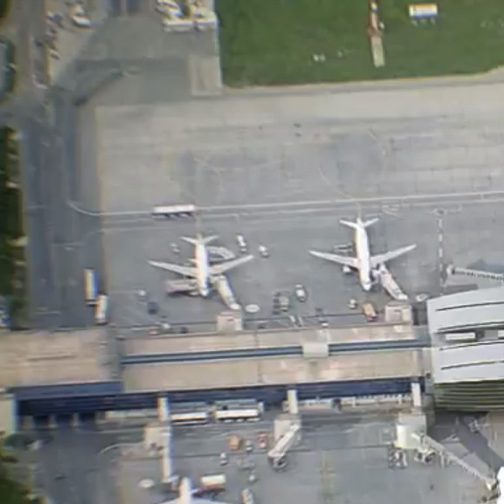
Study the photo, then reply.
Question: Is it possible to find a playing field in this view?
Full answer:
No, the picture doesn't show any playing field.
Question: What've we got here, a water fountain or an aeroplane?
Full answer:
Looking from above, you can make out an aeroplane.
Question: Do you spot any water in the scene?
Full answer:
No, the picture contains no water.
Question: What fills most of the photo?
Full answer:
What you mostly see from above here is paved ground.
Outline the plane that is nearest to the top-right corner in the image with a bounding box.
[309,202,415,291]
